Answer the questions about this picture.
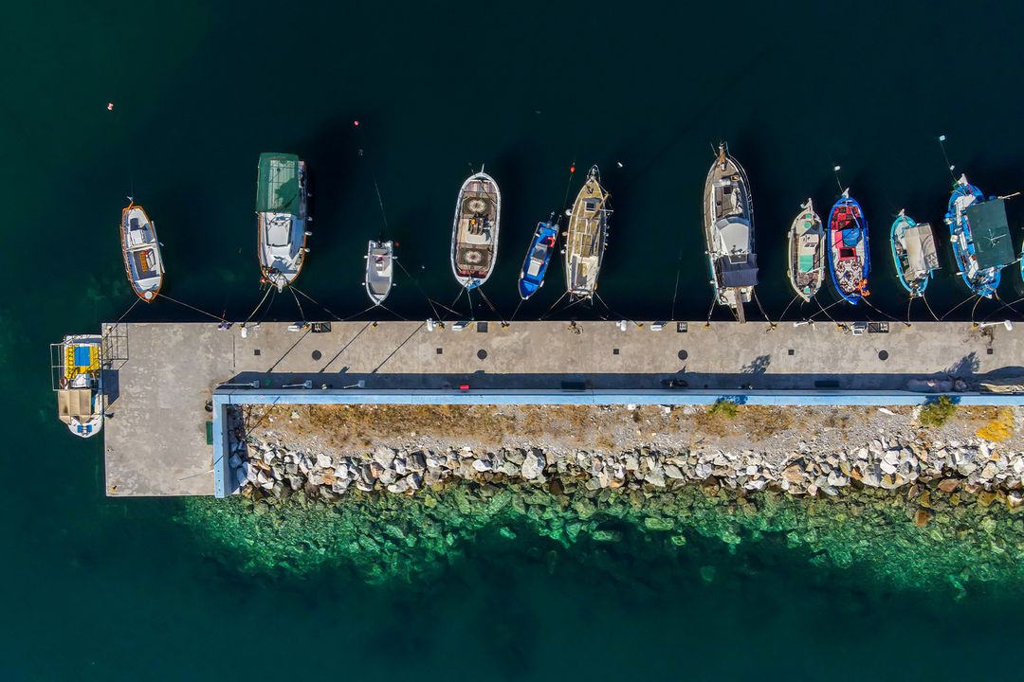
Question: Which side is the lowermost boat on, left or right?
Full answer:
It is on the left.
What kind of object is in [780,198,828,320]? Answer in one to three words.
boat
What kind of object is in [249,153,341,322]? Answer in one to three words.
boat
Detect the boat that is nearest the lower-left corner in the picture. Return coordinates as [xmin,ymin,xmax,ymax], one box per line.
[50,329,113,438]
